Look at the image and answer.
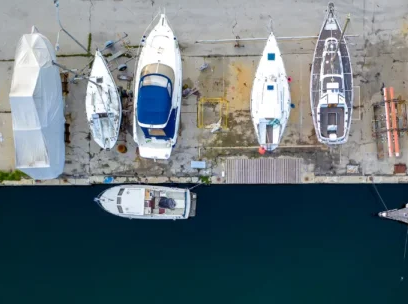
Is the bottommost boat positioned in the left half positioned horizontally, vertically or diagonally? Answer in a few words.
horizontally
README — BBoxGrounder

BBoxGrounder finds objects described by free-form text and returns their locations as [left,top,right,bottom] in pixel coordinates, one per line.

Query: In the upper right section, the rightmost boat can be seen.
[310,0,352,146]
